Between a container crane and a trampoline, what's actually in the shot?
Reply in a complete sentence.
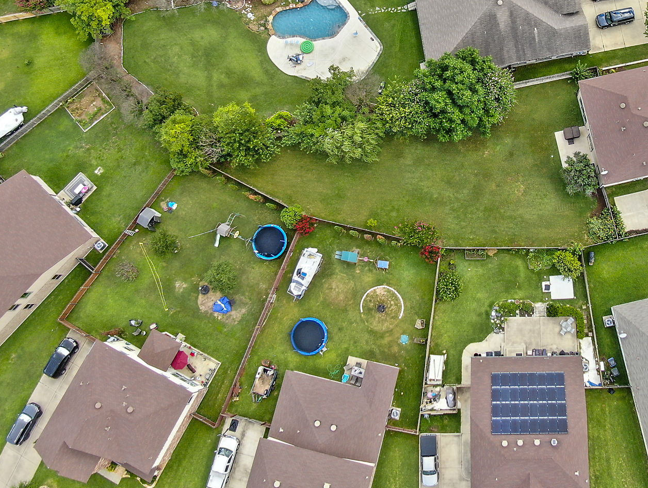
This aerial view contains a trampoline.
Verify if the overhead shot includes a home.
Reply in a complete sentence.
Yes, a home can be made out from above.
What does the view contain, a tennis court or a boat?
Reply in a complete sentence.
I can see a boat in this picture.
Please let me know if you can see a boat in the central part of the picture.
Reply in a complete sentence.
Yes, a boat shows up in the central part of the picture.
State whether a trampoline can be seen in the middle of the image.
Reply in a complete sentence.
Yes, in the middle of the image there is a trampoline.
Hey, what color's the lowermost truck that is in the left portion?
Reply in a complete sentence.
The lowermost truck that is in the left portion looks white in the image.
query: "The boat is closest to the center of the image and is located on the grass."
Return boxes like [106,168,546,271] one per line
[290,247,322,299]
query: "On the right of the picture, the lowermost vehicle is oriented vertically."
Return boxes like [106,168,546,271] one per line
[419,434,440,487]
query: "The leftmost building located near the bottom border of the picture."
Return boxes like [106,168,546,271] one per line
[34,340,210,484]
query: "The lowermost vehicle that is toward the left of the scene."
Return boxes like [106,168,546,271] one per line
[204,433,240,488]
